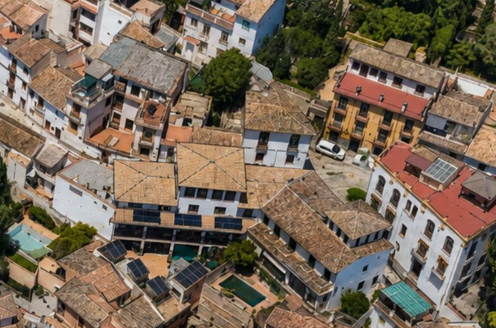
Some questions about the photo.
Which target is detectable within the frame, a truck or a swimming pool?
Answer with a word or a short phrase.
swimming pool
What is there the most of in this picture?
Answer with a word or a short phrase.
buildings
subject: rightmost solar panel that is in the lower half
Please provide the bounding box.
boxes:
[215,216,241,233]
